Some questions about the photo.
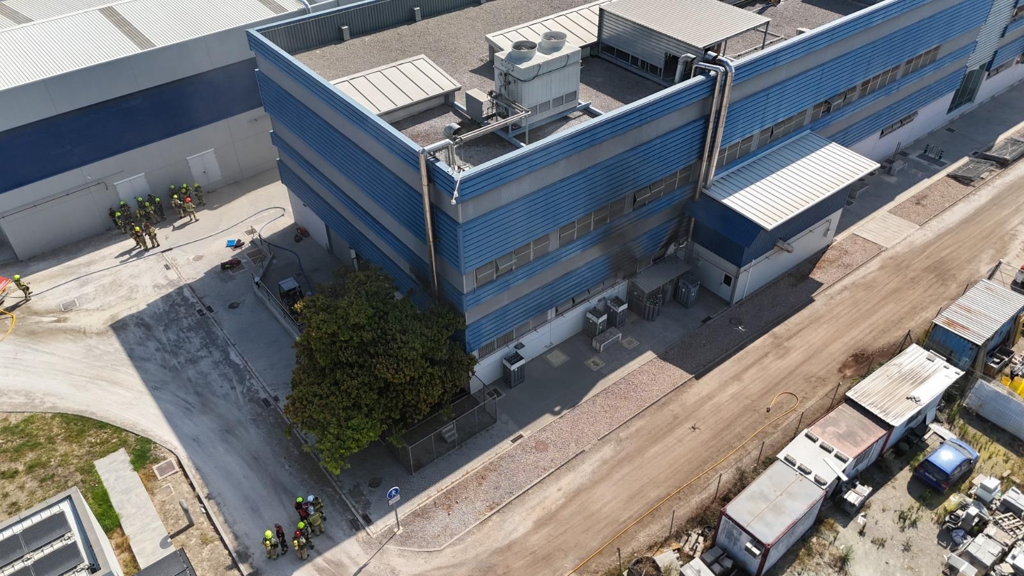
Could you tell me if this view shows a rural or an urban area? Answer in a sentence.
From above, the setting appears urban.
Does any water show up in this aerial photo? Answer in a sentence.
No, water can't be seen anywhere here.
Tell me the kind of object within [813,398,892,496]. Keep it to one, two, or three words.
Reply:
building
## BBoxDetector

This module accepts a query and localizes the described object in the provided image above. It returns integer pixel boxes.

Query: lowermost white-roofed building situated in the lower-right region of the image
[714,460,827,576]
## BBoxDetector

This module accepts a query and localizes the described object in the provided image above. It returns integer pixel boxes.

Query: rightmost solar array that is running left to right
[134,549,195,576]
